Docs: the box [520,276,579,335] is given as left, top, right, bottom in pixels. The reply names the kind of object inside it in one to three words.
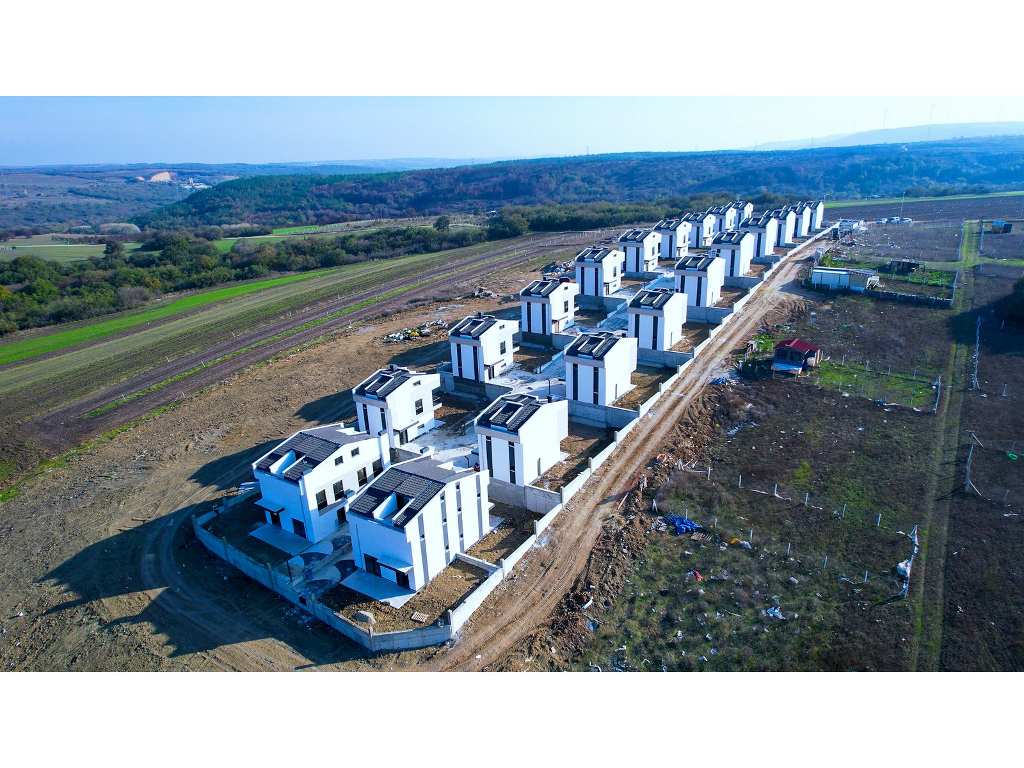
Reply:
house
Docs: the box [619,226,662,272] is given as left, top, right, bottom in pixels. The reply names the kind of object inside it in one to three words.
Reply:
house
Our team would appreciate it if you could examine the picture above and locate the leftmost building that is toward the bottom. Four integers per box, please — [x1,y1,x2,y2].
[255,424,393,539]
